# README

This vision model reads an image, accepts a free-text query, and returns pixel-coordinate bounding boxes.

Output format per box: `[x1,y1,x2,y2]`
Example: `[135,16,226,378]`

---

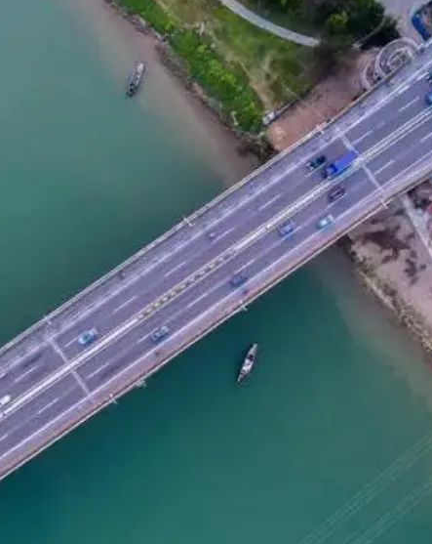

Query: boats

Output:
[129,61,146,98]
[236,341,258,384]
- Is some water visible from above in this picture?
Yes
